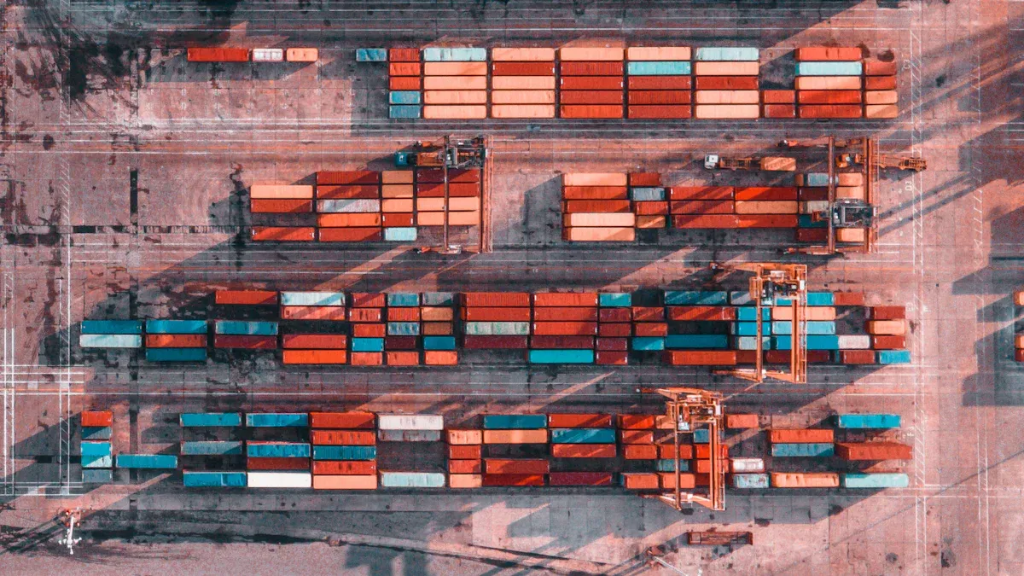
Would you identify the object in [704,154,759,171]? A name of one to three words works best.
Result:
vehicle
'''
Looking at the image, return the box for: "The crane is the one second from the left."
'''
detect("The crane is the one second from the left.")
[634,383,725,511]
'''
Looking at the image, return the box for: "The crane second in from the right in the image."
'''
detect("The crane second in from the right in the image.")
[713,261,806,383]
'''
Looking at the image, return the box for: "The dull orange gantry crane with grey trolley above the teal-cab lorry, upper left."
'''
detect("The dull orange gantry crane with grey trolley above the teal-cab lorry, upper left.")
[412,135,494,254]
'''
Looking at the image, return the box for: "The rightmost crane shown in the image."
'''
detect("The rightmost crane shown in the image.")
[782,135,879,254]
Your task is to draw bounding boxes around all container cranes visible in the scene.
[634,383,725,511]
[713,261,806,383]
[412,135,494,254]
[782,135,879,254]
